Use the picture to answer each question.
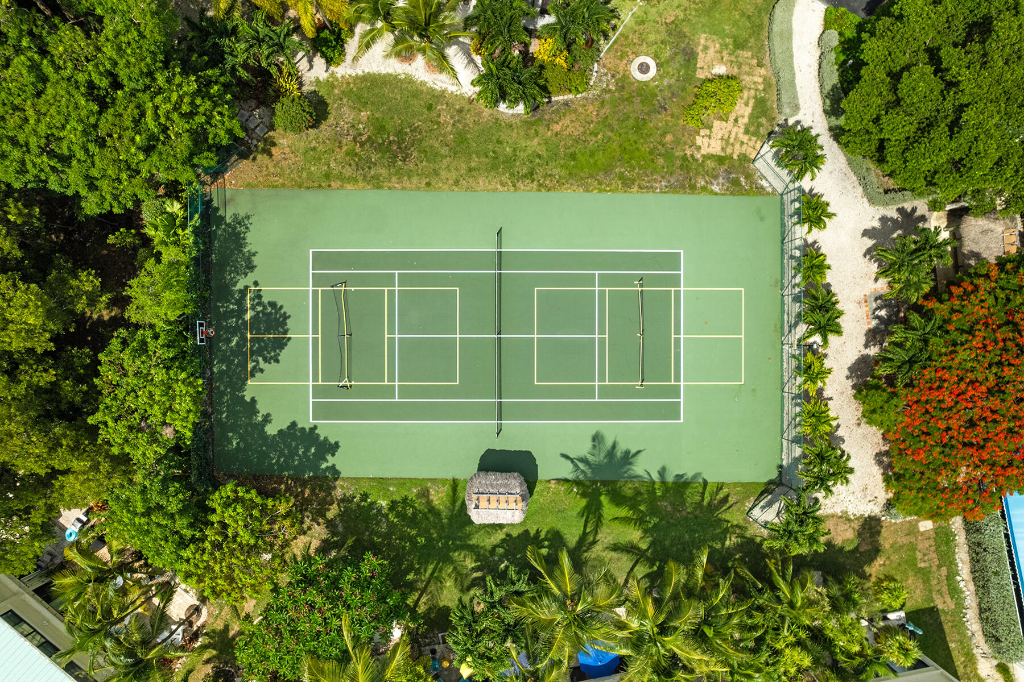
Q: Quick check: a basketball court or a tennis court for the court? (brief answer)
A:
tennis court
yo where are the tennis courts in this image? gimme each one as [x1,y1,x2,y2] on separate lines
[211,189,785,483]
